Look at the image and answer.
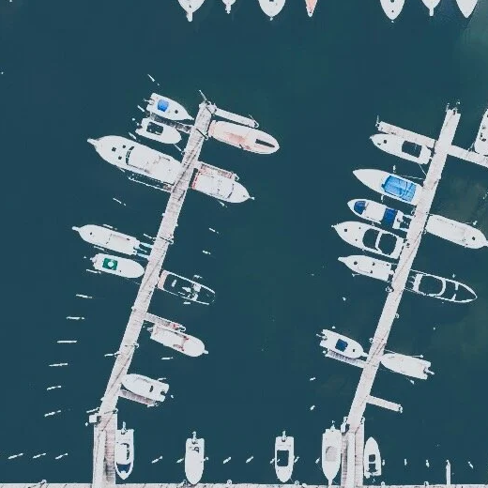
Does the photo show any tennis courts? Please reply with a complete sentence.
No, no tennis court is visible in the scene.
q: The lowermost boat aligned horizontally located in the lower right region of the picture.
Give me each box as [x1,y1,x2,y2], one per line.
[380,353,437,382]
